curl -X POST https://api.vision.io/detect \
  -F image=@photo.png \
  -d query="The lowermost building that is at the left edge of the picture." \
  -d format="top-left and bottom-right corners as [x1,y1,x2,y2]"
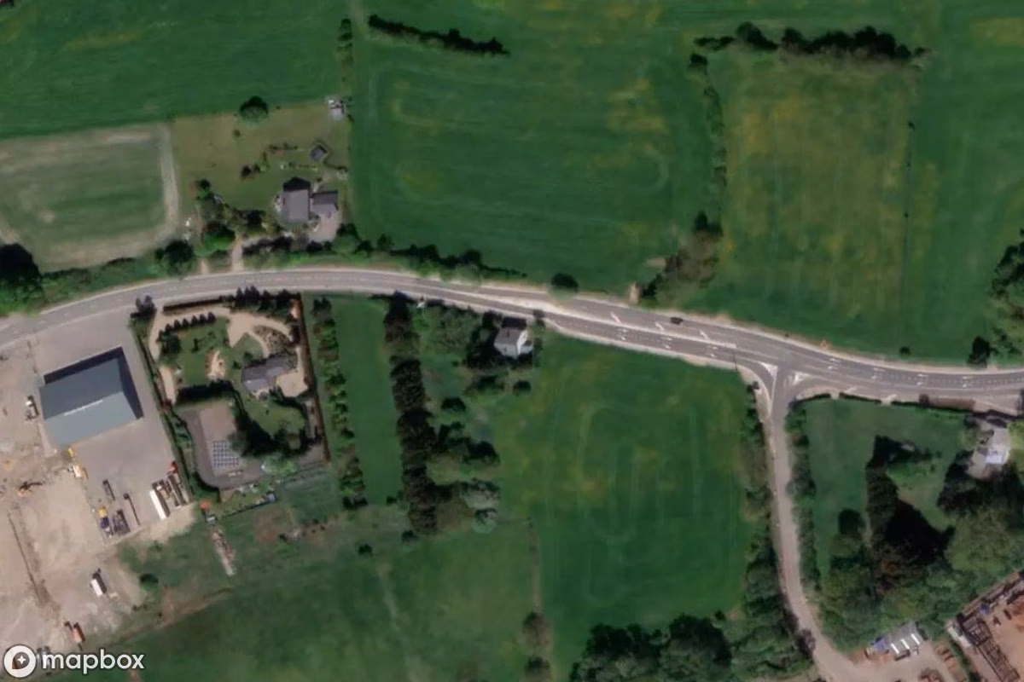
[37,358,144,447]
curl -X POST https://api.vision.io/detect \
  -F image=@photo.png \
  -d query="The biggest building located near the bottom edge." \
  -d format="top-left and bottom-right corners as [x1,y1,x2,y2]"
[886,620,927,657]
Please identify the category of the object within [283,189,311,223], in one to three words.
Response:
house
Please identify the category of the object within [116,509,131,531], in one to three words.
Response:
vehicle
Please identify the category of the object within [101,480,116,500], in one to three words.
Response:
vehicle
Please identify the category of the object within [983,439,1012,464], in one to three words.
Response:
house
